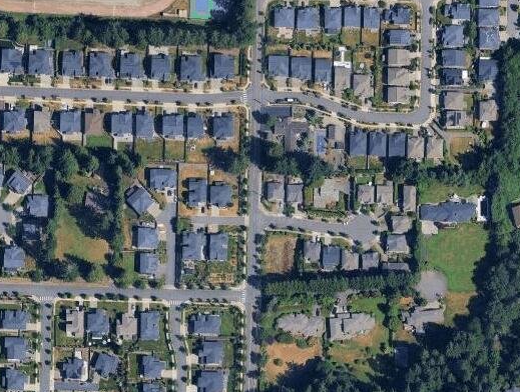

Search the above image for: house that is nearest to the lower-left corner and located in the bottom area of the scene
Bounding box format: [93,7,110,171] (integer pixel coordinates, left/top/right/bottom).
[4,369,25,392]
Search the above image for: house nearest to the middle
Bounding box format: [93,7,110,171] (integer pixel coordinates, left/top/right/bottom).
[266,182,283,203]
